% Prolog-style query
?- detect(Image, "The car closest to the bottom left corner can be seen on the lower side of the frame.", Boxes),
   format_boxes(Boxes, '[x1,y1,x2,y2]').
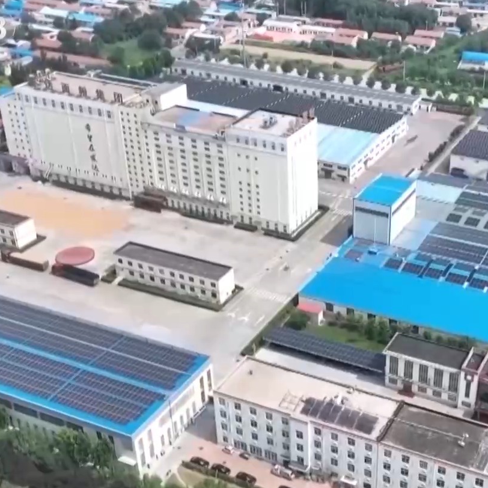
[187,452,212,467]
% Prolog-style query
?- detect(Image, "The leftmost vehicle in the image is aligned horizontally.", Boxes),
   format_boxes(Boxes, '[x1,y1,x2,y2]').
[0,250,48,273]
